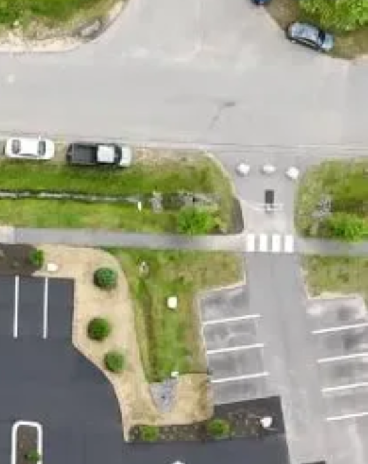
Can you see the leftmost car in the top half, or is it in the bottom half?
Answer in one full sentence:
The leftmost car sits in the top half of the picture.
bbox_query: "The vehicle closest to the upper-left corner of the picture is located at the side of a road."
[4,134,53,160]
